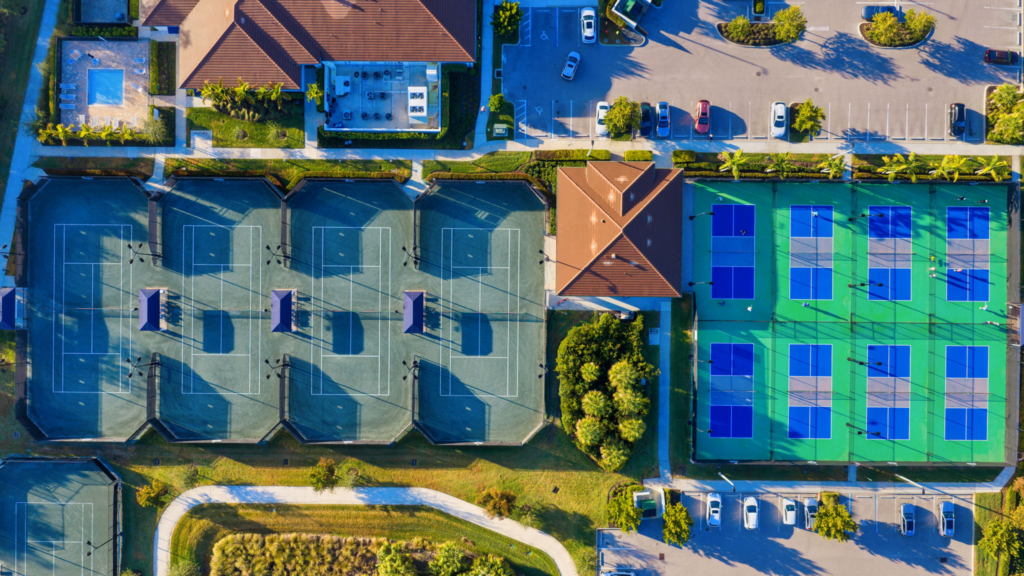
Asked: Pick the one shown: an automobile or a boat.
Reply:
automobile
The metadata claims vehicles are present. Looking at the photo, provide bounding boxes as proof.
[561,49,580,82]
[595,101,611,136]
[781,497,797,525]
[706,492,723,527]
[983,48,1018,64]
[770,101,787,138]
[638,102,654,137]
[695,99,711,134]
[656,102,671,137]
[802,497,820,531]
[743,496,760,531]
[860,4,897,21]
[897,502,915,537]
[937,501,955,537]
[948,103,966,137]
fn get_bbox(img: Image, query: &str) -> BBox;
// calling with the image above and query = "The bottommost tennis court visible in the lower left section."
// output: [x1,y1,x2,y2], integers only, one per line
[0,459,116,576]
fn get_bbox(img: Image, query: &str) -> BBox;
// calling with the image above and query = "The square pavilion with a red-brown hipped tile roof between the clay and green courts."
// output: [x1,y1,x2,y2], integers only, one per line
[555,161,683,297]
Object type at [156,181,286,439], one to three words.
tennis court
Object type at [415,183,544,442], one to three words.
tennis court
